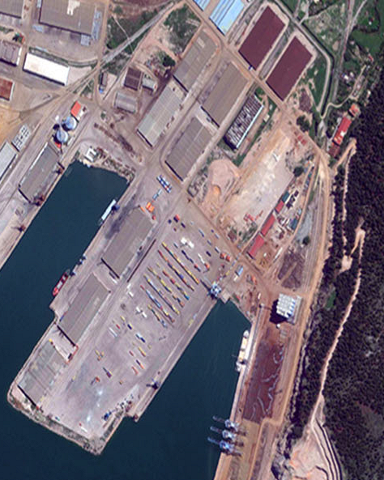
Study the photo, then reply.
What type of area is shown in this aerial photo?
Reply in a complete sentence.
This image shows a port.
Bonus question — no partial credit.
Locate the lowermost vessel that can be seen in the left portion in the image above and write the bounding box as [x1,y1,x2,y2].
[54,270,70,293]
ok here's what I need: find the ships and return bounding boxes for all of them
[236,330,250,371]
[102,200,116,220]
[54,270,70,293]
